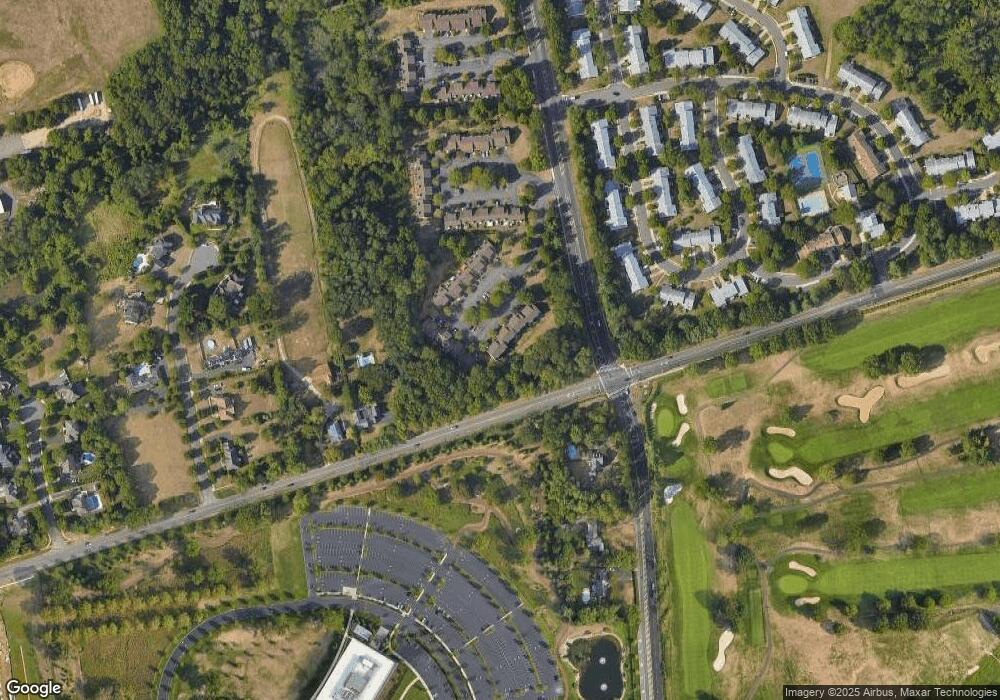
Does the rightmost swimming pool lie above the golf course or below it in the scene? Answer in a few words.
above it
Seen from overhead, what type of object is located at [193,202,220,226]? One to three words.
house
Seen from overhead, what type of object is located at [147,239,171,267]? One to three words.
house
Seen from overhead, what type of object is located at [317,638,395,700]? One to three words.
building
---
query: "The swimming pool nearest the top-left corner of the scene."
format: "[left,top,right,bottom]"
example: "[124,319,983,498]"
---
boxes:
[132,254,148,273]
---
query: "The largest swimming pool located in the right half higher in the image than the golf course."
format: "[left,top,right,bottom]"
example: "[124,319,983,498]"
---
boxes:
[797,189,831,217]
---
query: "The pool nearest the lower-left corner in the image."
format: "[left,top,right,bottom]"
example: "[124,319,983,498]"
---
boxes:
[82,491,103,513]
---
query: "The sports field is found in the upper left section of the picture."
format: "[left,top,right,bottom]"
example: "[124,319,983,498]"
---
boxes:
[0,58,38,103]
